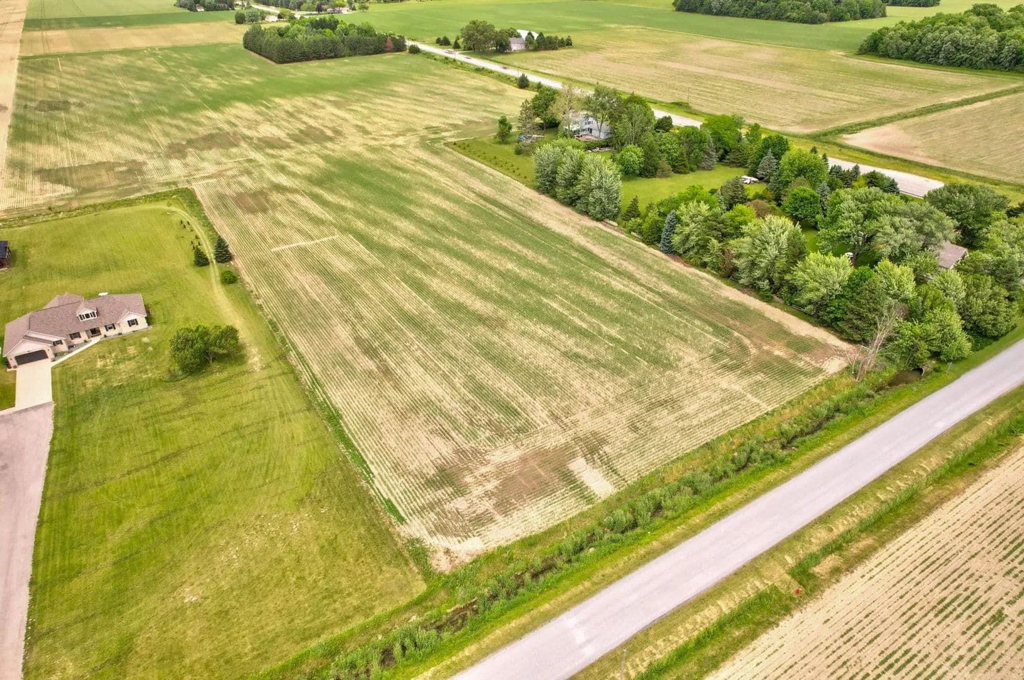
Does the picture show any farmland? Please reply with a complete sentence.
Yes, there's farmland in this view.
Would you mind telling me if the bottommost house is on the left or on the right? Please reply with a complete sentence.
The bottommost house appears in the left half of the scene.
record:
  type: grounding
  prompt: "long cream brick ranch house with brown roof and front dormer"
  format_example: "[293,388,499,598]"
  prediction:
[0,285,151,371]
